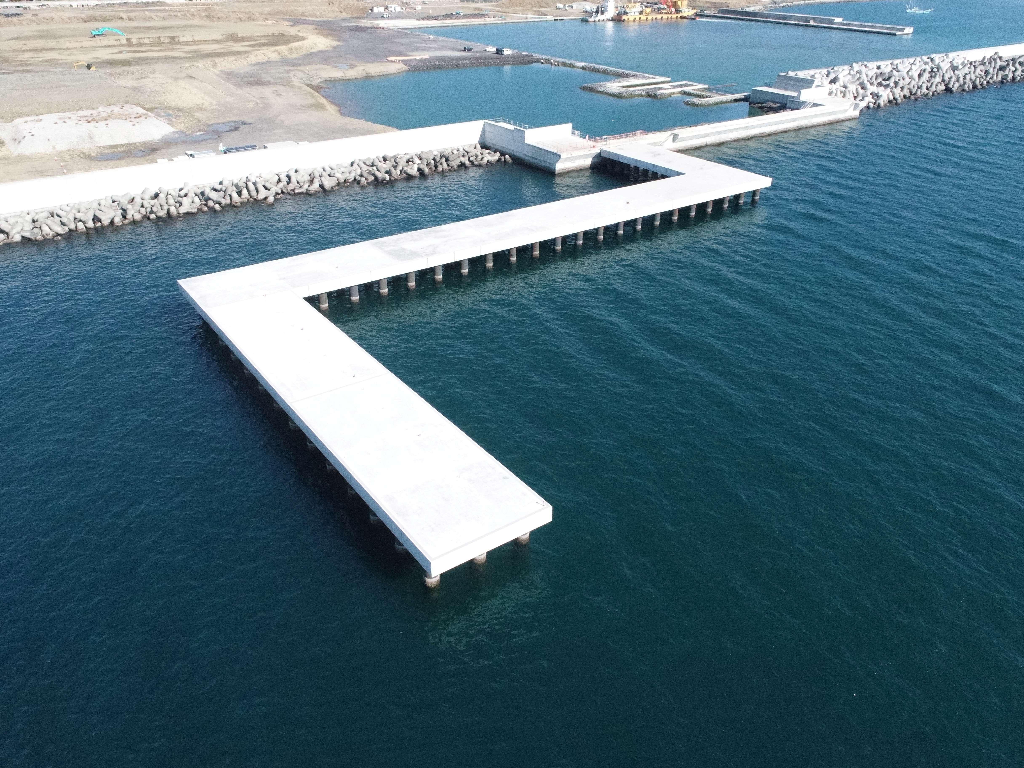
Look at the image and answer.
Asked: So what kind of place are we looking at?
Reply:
port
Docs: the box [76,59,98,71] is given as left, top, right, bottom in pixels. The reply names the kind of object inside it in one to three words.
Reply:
vehicle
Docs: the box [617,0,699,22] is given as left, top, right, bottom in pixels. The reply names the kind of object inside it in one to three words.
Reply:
ship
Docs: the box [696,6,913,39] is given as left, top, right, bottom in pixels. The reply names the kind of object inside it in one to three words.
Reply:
pier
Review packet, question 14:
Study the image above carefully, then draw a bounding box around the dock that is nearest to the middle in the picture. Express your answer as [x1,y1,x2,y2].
[178,143,772,587]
